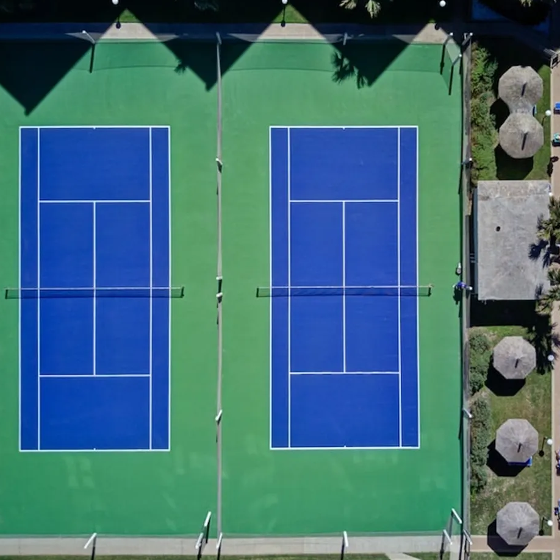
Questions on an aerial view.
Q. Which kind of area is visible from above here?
sports ground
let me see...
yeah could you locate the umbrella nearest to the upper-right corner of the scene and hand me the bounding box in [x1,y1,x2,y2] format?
[501,70,541,121]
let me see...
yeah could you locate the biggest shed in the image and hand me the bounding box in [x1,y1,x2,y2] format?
[472,181,550,300]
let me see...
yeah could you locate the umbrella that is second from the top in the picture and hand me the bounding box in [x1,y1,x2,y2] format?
[501,116,542,154]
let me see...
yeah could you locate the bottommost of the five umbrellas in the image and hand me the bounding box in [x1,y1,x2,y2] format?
[498,504,537,545]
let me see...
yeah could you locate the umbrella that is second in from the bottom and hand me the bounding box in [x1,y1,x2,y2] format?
[498,421,537,461]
